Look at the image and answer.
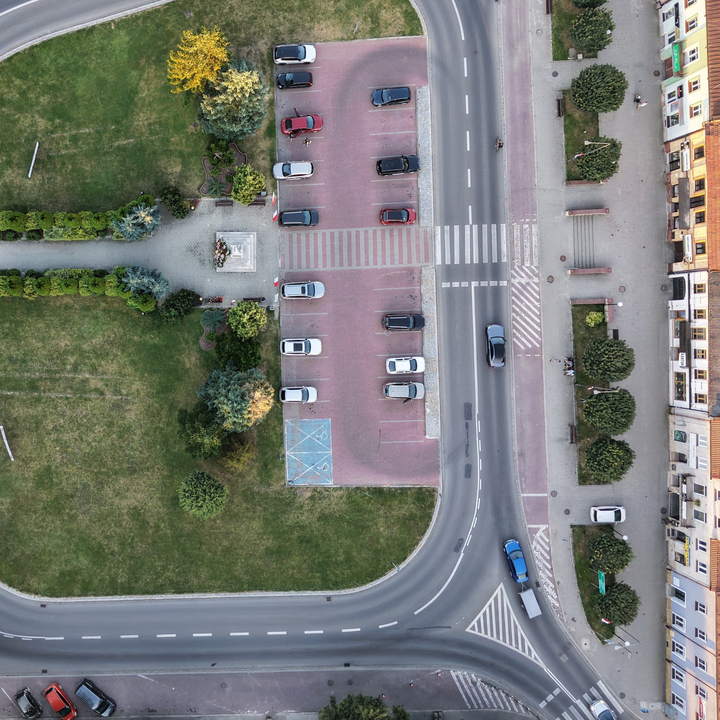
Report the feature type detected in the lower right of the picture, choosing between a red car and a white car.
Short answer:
white car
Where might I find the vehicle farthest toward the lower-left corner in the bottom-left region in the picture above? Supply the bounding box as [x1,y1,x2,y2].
[15,684,44,720]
